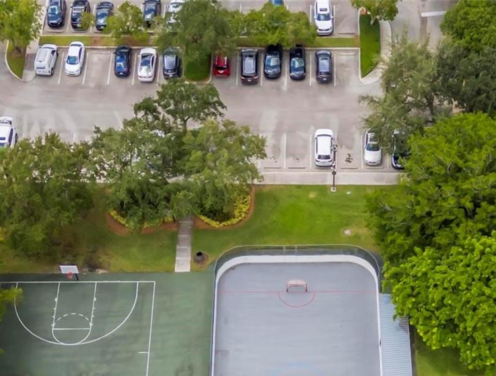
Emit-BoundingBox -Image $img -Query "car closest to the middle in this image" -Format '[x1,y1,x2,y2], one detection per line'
[313,131,334,168]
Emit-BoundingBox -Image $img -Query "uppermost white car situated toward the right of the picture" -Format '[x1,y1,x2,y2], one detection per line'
[314,1,333,35]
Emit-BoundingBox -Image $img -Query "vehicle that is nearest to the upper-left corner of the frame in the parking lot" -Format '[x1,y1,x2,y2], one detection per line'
[44,0,67,28]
